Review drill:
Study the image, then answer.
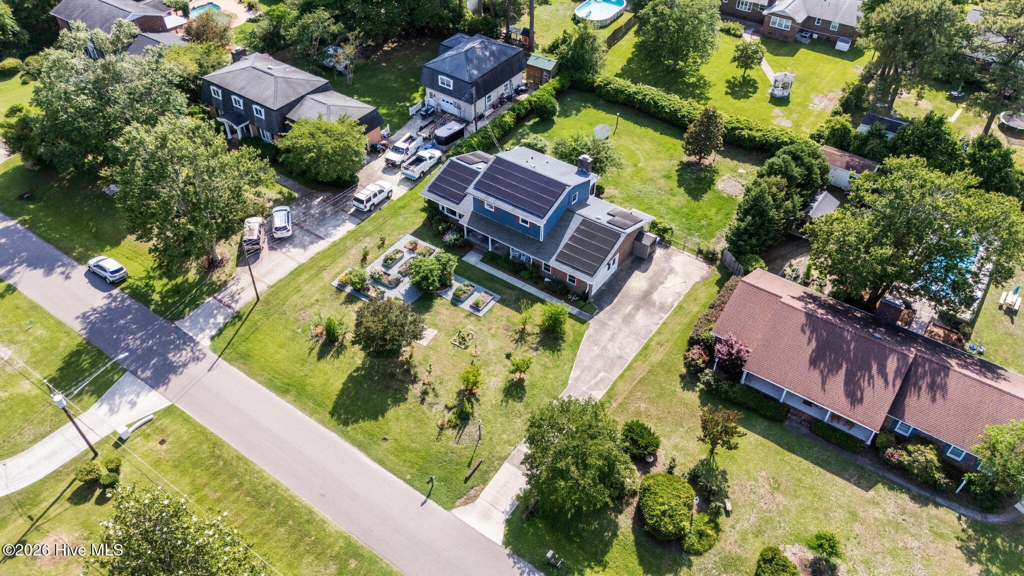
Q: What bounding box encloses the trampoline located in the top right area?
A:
[996,111,1024,132]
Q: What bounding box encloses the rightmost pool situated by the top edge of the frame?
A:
[573,0,625,26]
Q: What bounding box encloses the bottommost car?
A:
[84,252,127,283]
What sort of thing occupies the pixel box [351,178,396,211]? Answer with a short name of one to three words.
car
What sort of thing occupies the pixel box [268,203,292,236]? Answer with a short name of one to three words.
car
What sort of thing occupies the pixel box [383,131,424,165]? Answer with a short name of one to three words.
truck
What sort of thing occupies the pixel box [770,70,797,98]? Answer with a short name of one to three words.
gazebo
